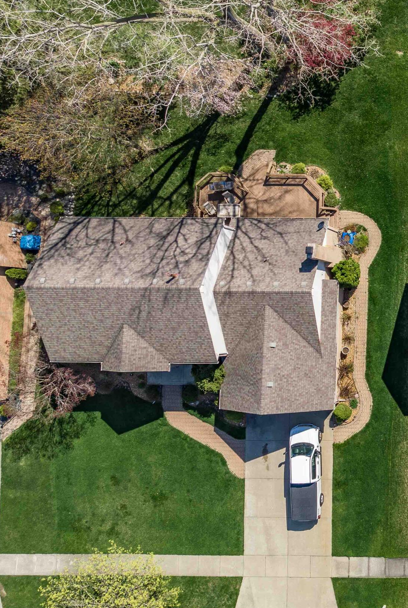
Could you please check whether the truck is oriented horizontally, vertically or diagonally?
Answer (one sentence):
From this overhead view, the truck appears to run vertically.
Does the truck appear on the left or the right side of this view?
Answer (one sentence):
You can find the truck on the right side of the picture.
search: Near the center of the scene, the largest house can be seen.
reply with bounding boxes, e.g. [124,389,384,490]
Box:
[24,215,345,414]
